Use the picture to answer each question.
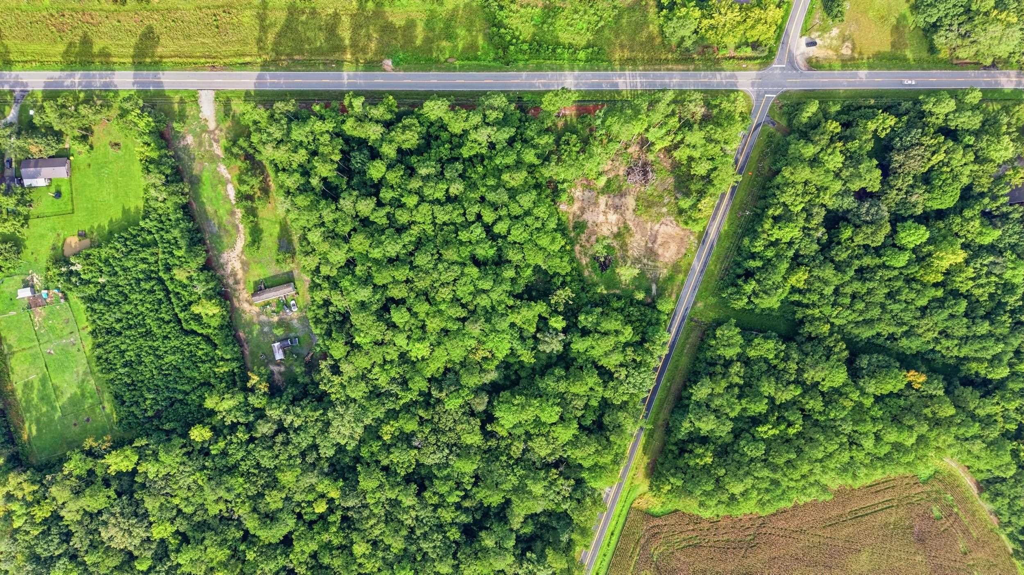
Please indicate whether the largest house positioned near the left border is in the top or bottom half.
top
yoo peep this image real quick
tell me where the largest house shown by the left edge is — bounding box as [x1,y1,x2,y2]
[20,157,72,188]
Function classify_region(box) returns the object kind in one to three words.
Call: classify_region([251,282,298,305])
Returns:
house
